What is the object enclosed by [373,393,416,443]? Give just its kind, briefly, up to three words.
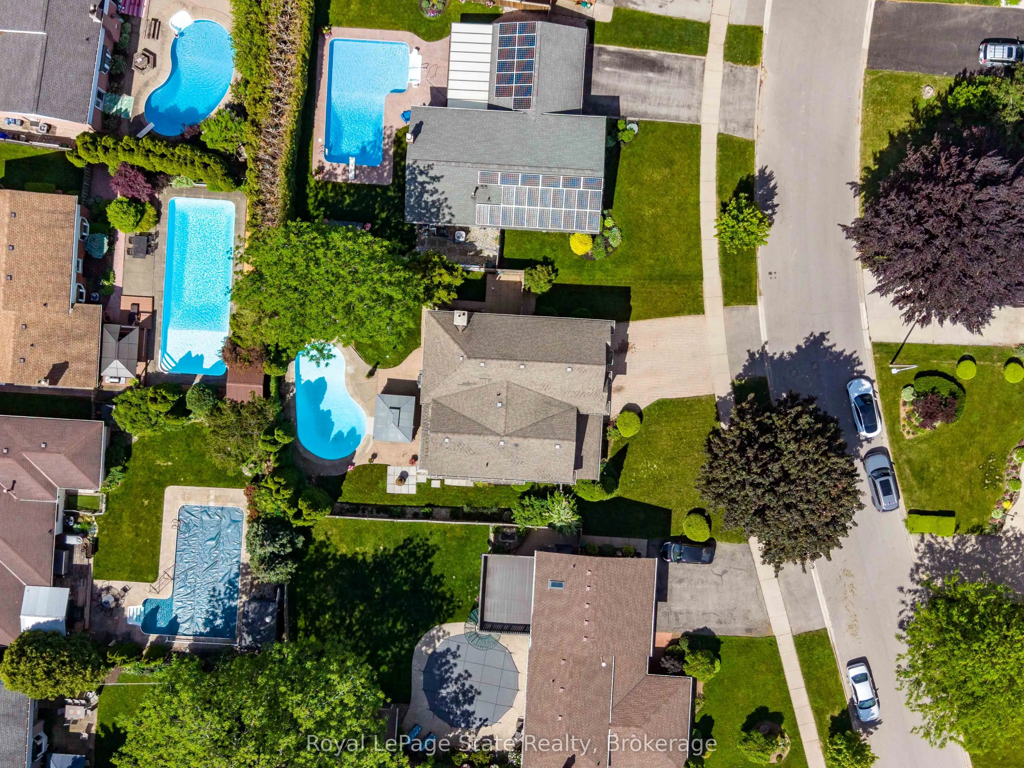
gazebo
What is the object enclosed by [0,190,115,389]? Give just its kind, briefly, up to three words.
house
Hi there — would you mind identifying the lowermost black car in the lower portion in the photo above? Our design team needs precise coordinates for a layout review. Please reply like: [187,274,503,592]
[660,539,715,567]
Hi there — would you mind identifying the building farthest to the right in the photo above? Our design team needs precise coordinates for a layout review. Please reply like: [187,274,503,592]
[522,547,693,768]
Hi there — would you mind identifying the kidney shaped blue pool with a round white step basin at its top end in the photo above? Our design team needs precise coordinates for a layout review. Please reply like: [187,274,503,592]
[144,10,235,136]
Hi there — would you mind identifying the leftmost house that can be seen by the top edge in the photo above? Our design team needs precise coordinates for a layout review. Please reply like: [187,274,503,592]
[0,0,120,129]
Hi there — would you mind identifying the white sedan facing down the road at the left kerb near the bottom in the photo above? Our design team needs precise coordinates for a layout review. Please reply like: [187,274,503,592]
[844,659,880,721]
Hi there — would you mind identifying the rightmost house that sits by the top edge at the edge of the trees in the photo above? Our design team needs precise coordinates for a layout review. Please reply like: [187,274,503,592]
[404,21,607,235]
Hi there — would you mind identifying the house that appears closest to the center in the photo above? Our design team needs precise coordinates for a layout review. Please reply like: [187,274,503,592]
[417,309,616,485]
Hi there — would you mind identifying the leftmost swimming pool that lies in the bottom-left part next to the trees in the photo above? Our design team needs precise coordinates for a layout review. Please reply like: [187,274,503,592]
[127,505,244,640]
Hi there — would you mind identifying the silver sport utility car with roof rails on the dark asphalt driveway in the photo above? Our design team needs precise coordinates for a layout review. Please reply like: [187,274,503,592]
[977,38,1024,67]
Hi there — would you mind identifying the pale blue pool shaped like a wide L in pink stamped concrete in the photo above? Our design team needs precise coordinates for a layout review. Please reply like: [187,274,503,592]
[318,38,422,167]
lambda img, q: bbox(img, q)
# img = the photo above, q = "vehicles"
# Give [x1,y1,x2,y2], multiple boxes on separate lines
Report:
[660,539,715,567]
[845,377,882,439]
[977,38,1024,67]
[844,659,880,721]
[863,451,898,512]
